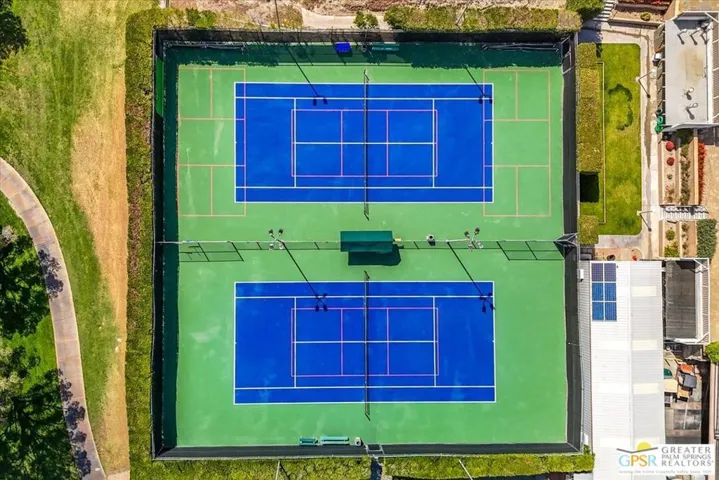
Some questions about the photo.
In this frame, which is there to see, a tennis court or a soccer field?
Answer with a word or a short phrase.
tennis court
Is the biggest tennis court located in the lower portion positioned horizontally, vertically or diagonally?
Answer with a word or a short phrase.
horizontally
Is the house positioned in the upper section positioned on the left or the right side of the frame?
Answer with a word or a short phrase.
right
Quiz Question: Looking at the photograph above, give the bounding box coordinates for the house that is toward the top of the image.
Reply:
[654,13,719,134]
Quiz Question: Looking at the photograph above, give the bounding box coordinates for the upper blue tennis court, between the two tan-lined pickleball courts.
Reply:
[235,83,494,202]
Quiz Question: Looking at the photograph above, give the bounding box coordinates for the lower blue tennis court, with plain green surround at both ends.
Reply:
[234,281,496,404]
